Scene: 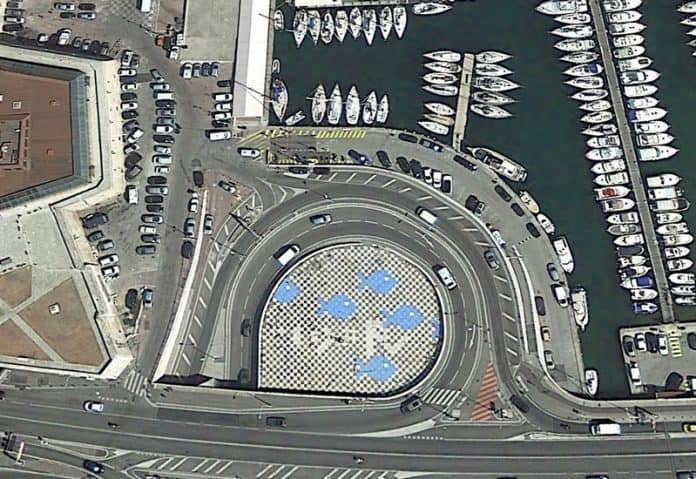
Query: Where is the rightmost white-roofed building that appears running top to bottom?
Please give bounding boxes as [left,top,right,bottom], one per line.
[234,0,271,118]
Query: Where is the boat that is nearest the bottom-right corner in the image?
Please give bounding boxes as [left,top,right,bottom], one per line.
[585,367,598,395]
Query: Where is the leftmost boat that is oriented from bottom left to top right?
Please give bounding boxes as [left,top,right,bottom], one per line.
[287,110,306,124]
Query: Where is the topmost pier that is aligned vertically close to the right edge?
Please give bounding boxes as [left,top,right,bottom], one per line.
[589,0,674,324]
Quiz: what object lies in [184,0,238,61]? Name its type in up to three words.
building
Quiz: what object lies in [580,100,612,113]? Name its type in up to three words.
boat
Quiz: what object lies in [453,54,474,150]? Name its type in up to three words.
pier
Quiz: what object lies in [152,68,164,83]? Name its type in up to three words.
vehicle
